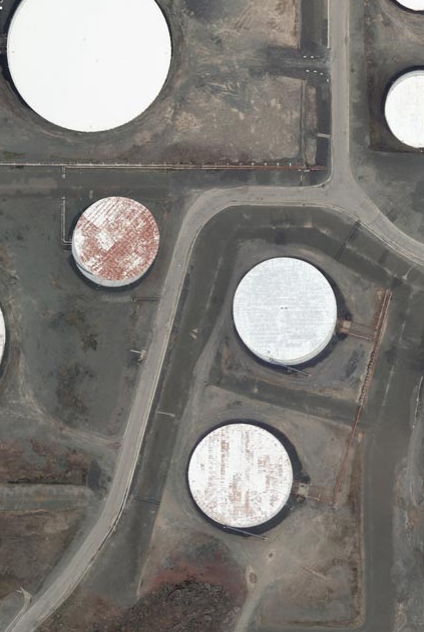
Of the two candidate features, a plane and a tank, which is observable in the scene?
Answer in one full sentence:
The one in the frame is a tank.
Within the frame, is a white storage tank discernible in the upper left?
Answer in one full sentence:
Yes, looking in the upper left, one can make out a white storage tank.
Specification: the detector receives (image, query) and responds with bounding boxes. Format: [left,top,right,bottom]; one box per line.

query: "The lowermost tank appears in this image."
[184,417,302,541]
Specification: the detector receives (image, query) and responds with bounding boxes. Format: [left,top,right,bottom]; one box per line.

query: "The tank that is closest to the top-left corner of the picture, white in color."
[0,0,172,135]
